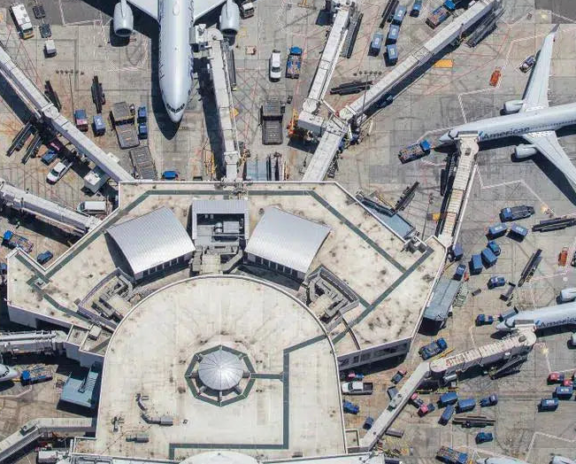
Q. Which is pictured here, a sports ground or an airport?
airport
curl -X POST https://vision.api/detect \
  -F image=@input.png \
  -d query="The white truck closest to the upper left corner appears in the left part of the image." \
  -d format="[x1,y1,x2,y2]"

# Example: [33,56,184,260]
[9,0,35,42]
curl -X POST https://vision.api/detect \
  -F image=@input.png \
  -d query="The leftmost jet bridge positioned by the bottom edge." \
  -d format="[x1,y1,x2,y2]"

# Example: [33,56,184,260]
[0,417,97,464]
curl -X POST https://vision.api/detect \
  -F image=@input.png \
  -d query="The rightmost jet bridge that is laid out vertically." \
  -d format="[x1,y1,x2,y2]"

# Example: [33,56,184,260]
[436,127,481,264]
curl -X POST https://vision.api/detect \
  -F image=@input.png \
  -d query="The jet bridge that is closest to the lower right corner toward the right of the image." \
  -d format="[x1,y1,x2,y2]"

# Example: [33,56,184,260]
[359,319,541,453]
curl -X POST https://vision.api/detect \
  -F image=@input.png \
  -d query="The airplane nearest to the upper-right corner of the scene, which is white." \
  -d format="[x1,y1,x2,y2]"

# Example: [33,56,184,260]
[439,21,576,187]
